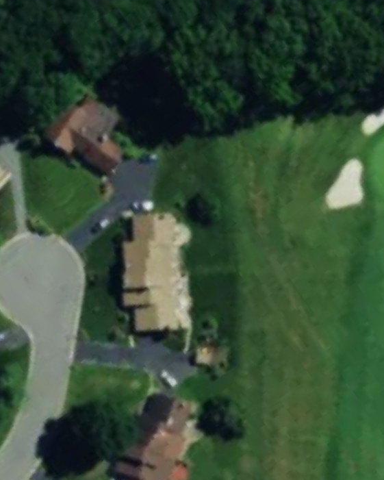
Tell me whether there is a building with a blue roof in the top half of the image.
No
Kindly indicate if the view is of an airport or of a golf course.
golf course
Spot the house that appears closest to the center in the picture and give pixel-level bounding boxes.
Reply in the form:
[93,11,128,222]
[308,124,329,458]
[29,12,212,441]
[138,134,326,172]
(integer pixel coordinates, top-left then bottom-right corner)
[123,214,196,330]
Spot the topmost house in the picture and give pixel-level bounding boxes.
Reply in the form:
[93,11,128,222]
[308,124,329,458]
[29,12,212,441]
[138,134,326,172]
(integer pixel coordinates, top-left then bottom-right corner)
[45,90,125,173]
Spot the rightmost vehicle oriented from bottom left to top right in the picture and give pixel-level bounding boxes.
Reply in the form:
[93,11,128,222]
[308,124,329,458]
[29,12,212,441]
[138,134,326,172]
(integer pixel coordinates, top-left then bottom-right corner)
[95,216,110,231]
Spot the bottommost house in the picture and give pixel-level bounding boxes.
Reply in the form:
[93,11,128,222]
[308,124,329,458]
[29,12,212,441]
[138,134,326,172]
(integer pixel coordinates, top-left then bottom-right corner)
[117,392,194,480]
